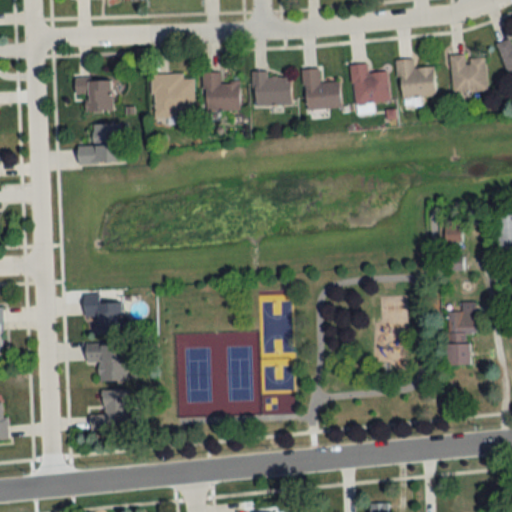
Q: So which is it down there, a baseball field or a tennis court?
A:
tennis court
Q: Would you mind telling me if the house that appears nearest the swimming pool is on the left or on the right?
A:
left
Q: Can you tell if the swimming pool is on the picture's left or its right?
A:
left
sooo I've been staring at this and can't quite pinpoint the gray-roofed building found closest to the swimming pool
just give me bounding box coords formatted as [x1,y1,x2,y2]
[82,292,122,326]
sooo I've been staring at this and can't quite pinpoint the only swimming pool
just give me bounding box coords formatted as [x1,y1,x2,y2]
[129,300,150,320]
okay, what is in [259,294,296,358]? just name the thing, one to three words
basketball court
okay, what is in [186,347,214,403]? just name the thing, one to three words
tennis court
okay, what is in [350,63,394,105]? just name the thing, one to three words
house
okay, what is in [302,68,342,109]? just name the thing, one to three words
house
